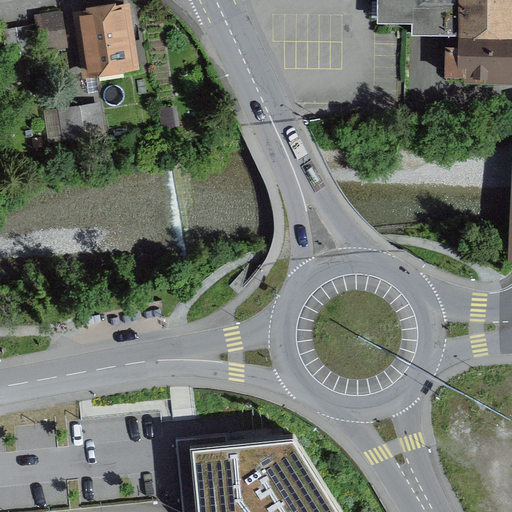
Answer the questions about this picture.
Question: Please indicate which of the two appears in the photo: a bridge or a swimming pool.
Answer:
bridge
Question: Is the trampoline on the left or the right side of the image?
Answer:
left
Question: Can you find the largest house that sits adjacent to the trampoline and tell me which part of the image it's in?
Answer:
top left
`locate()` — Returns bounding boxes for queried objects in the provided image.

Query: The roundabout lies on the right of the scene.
[270,248,445,422]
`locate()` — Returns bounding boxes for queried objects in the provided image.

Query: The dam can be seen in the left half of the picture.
[166,170,197,262]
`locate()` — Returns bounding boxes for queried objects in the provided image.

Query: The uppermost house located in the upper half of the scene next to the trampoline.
[74,4,139,80]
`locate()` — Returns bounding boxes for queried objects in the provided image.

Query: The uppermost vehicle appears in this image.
[248,100,266,121]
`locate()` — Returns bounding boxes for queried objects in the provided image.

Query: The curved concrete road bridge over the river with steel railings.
[236,112,390,294]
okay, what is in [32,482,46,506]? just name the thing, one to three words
car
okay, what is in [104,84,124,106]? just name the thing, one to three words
trampoline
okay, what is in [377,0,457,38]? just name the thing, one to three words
building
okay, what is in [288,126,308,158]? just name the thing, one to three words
truck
